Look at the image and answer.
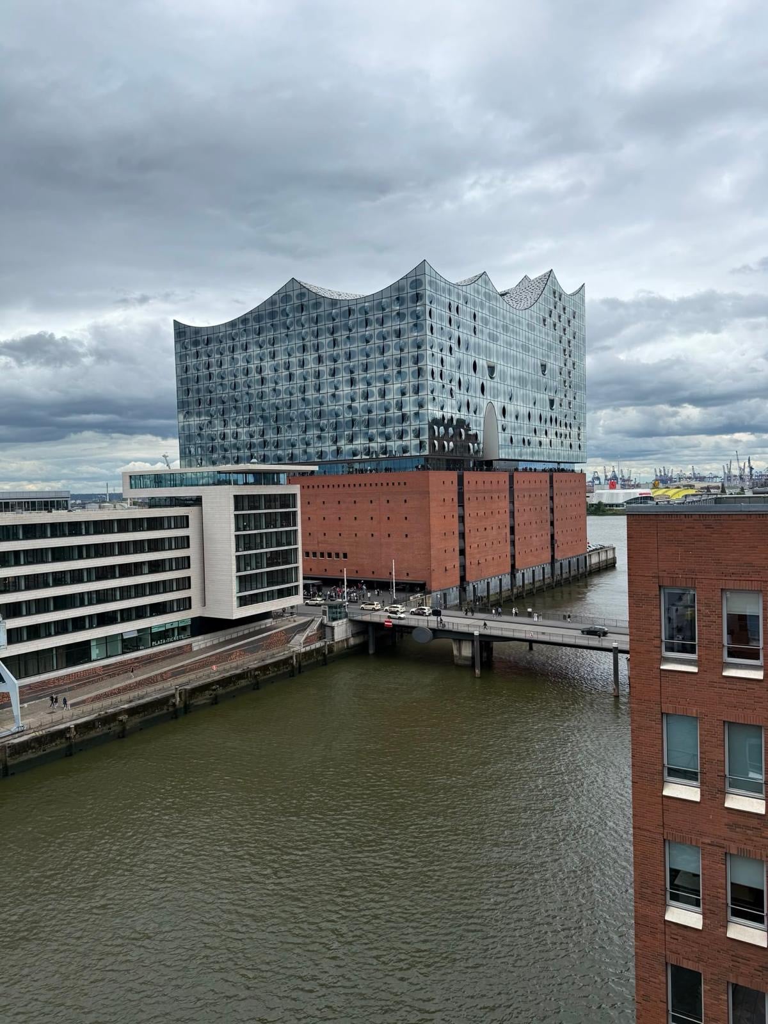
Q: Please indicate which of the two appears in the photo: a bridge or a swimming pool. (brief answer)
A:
bridge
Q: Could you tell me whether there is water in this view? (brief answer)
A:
Yes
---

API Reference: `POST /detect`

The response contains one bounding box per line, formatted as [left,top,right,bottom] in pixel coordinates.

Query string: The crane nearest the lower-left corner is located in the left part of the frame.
[0,622,31,730]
